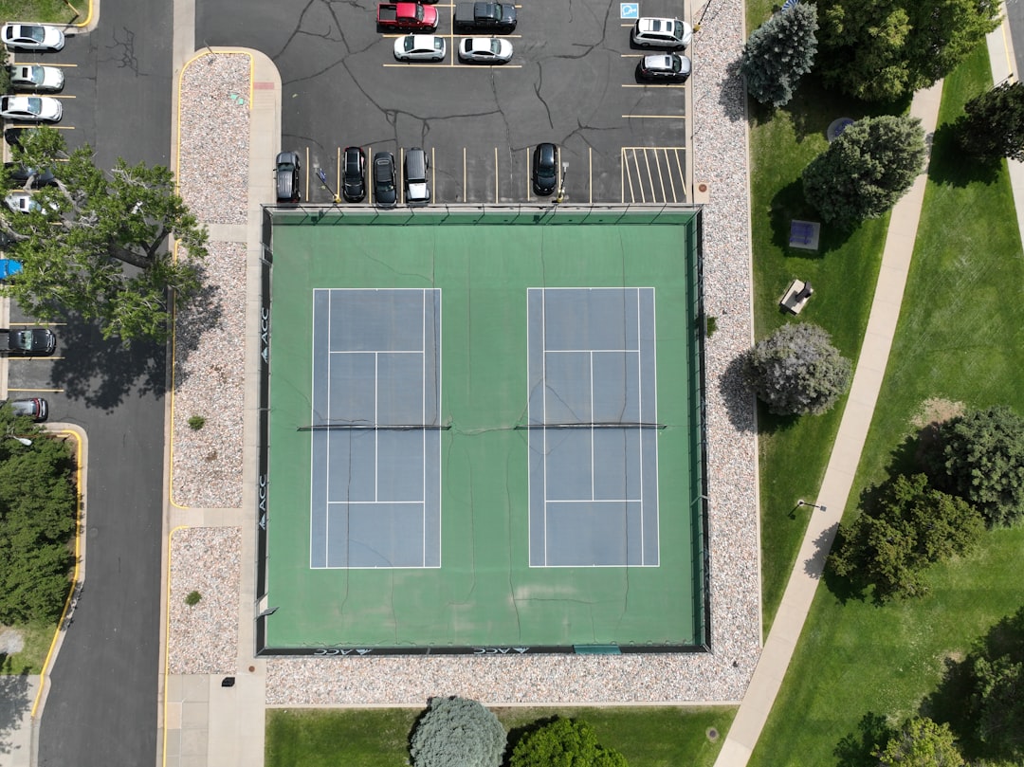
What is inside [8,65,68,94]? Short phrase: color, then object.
white car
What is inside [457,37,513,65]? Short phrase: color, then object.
white car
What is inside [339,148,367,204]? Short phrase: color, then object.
black car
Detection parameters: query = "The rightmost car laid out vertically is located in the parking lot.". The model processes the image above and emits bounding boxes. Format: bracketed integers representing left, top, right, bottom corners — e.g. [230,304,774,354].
[532,145,559,199]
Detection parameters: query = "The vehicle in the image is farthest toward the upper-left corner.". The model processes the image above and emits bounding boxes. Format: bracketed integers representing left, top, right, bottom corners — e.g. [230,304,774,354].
[5,24,66,54]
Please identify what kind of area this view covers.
sports ground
